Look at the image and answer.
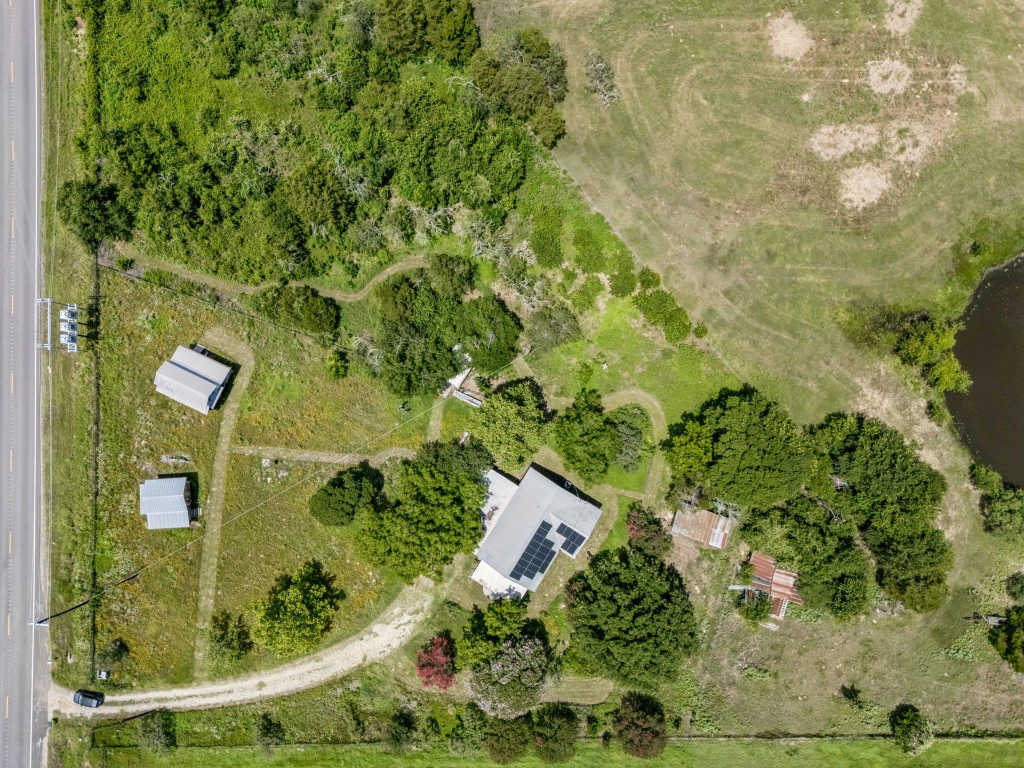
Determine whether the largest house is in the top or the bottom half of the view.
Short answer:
bottom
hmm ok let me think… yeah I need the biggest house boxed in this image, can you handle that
[469,467,602,605]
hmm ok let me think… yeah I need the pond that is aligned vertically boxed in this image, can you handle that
[946,253,1024,487]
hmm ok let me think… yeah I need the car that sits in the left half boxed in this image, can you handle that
[73,689,107,707]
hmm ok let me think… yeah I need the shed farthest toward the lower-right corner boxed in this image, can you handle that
[748,552,803,617]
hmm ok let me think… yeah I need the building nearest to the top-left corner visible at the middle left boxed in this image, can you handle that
[155,345,238,415]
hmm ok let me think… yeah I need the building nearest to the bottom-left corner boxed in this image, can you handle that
[140,477,202,529]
